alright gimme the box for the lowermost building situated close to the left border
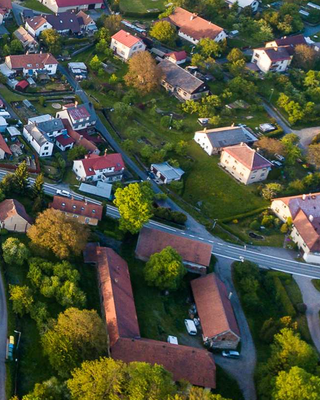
[0,202,29,227]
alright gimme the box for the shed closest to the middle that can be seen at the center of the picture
[151,161,189,185]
